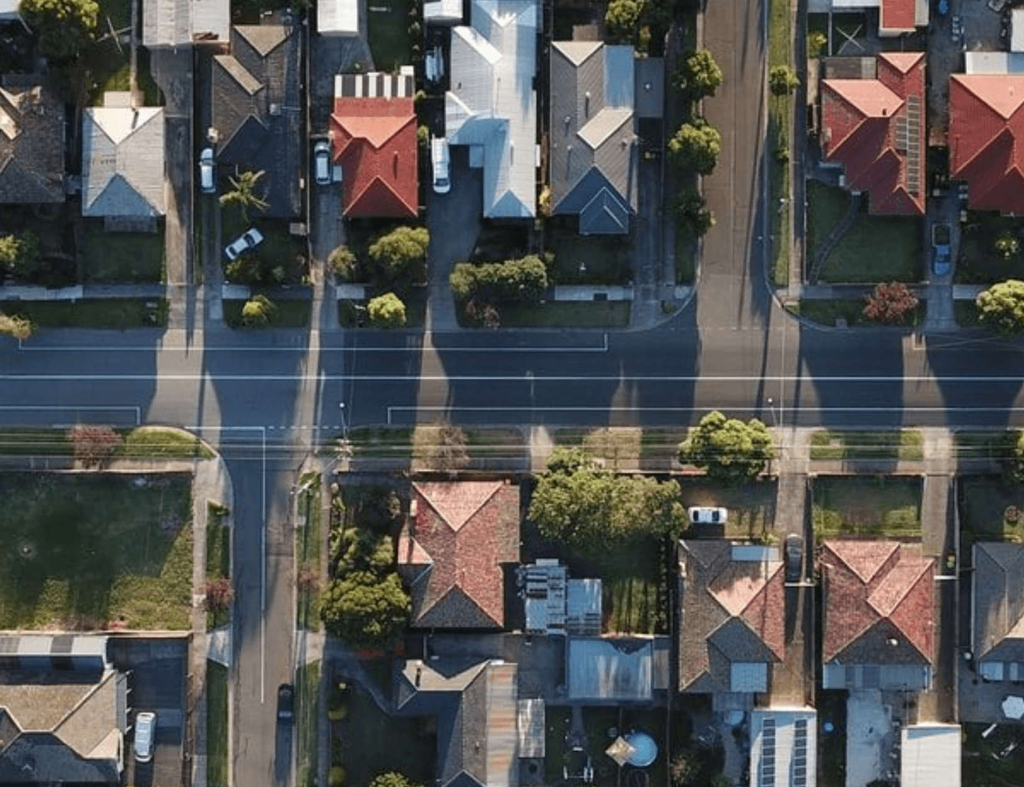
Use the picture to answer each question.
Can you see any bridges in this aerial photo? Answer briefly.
No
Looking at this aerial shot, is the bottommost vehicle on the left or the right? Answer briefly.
left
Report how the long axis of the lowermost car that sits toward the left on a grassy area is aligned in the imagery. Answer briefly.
diagonally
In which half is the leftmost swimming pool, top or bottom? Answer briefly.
bottom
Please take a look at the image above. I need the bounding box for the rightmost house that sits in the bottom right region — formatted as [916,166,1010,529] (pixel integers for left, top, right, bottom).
[967,541,1024,679]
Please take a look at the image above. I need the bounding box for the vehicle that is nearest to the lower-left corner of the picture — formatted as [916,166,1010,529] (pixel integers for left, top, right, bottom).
[131,712,155,764]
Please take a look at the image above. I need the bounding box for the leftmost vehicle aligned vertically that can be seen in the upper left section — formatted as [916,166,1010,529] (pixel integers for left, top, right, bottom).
[196,147,215,190]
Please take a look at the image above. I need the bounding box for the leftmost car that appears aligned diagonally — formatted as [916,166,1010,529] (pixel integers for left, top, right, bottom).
[224,226,264,259]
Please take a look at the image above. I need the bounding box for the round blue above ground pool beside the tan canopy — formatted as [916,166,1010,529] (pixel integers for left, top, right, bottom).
[627,732,660,769]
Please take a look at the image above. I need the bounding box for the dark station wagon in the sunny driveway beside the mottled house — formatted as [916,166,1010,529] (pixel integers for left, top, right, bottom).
[785,536,805,583]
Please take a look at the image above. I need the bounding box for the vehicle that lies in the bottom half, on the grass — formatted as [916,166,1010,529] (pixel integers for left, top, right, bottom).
[689,507,728,525]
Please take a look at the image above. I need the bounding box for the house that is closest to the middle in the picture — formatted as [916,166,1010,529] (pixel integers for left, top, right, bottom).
[396,481,521,629]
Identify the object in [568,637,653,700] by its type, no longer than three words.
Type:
shed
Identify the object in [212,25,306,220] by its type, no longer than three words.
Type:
house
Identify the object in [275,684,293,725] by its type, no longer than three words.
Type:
car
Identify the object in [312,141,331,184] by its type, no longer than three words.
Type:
car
